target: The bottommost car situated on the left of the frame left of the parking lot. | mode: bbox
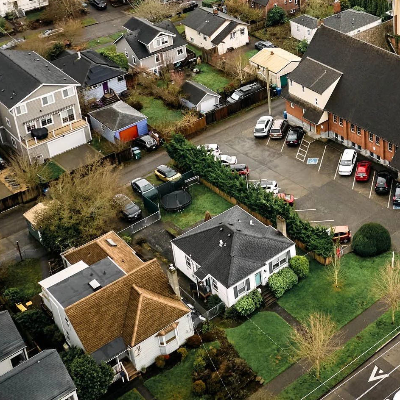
[109,197,147,222]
